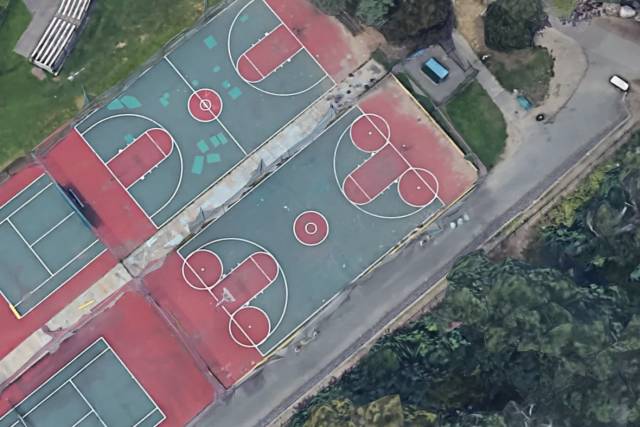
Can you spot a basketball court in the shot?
Yes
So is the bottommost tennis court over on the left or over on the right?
left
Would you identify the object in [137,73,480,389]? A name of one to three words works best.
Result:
basketball court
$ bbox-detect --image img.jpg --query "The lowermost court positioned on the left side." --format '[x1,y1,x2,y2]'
[0,279,226,427]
